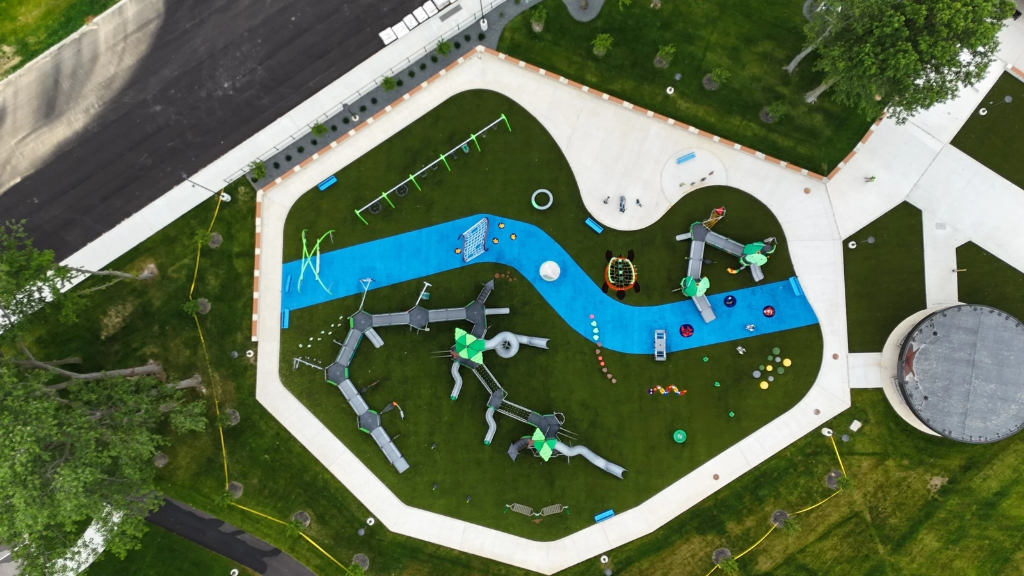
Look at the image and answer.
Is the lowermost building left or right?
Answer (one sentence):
The lowermost building sits on the right side.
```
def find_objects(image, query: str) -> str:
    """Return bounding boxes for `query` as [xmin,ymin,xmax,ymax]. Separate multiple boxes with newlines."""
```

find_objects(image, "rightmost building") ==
[897,302,1024,443]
